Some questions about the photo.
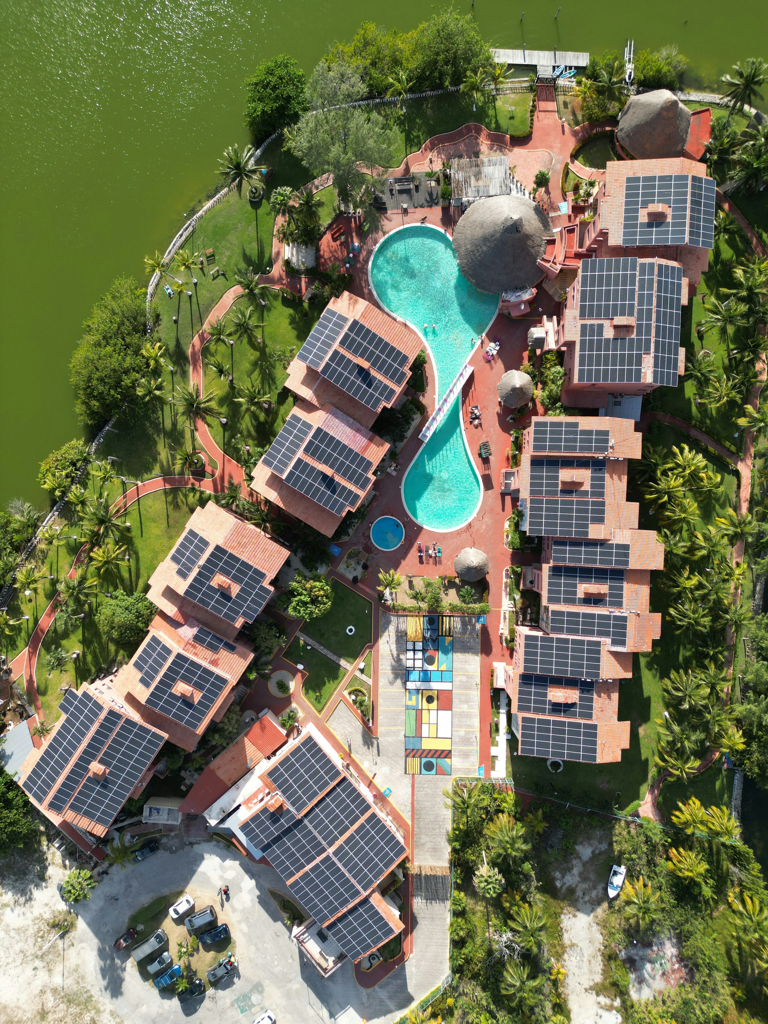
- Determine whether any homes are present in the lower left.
Yes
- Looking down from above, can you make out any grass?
Yes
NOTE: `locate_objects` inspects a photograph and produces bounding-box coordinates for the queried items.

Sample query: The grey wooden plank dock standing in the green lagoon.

[491,49,589,80]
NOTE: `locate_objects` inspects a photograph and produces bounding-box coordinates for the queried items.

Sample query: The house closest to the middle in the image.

[250,399,390,538]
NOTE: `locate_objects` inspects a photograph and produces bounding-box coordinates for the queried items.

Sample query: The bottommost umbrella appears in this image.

[453,547,489,584]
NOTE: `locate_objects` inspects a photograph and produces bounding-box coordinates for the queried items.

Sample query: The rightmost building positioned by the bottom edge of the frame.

[213,708,410,977]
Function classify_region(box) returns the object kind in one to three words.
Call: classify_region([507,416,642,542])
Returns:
house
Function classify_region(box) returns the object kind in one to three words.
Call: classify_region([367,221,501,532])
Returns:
swimming pool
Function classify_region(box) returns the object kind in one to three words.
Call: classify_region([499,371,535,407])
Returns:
umbrella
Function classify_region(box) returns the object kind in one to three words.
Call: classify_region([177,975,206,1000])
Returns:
car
